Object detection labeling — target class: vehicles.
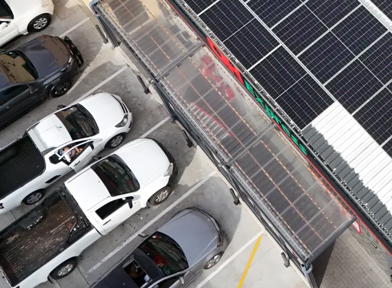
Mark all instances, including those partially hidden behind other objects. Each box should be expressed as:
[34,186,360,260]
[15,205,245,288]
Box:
[0,0,50,48]
[0,90,125,212]
[81,210,222,288]
[0,23,83,122]
[0,137,173,288]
